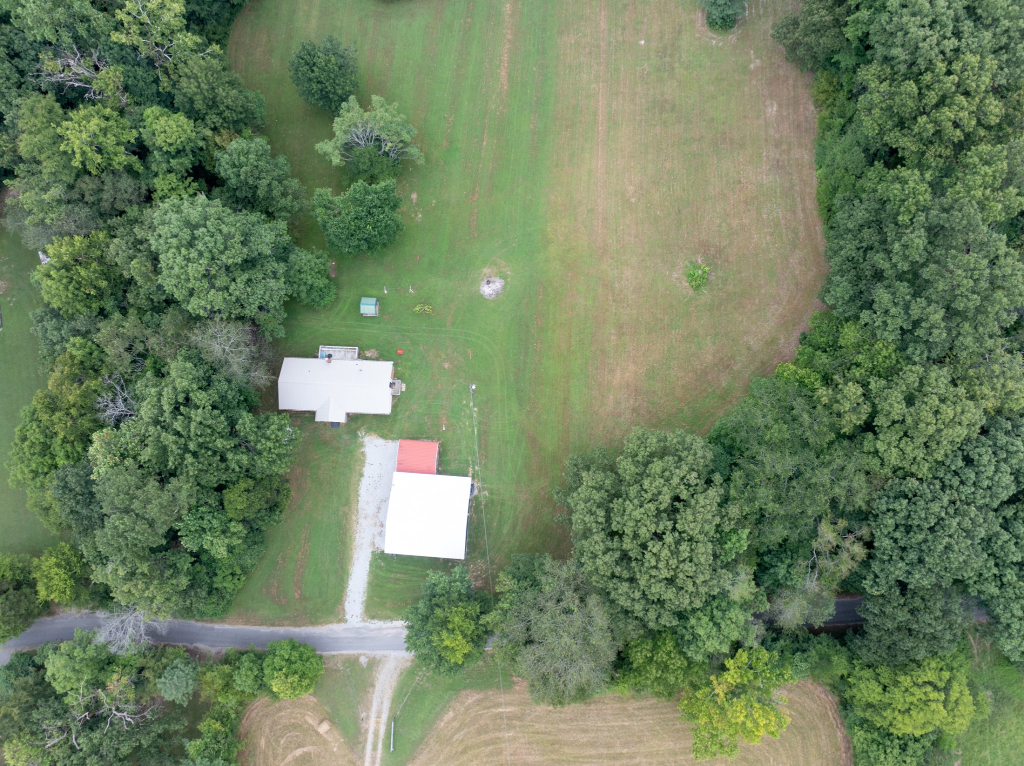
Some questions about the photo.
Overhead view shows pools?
No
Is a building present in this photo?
Yes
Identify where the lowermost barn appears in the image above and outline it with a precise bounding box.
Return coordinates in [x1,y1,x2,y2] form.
[386,472,472,559]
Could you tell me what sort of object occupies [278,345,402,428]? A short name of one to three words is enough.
house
